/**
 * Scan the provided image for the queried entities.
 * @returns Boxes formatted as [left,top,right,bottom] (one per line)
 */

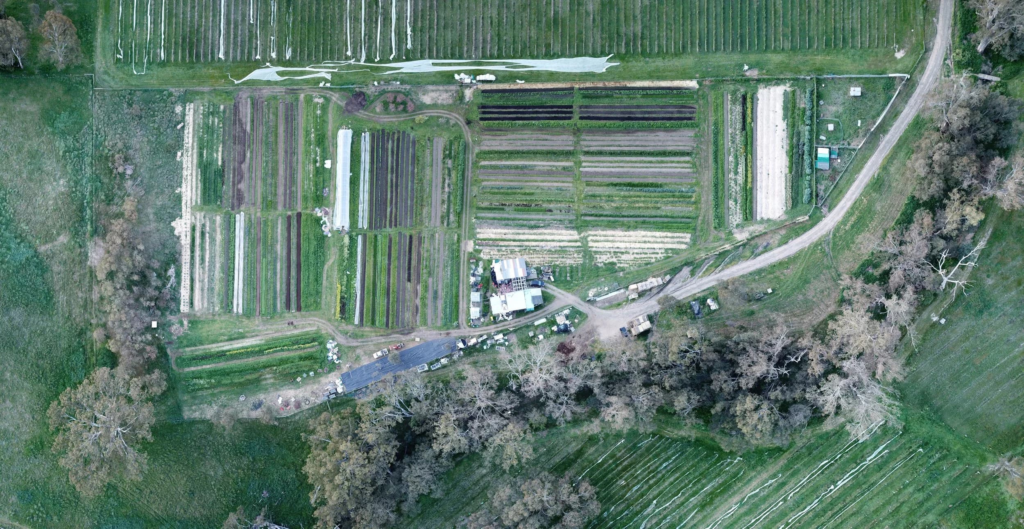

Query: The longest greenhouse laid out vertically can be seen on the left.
[334,129,352,229]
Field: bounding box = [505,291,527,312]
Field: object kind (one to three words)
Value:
shed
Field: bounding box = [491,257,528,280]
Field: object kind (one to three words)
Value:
shed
